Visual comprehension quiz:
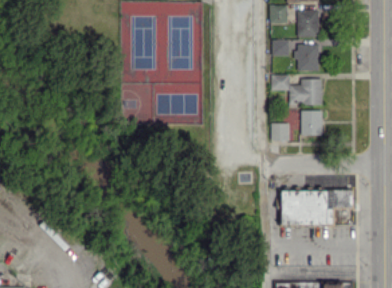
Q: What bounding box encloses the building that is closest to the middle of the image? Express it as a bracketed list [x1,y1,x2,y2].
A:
[272,122,290,142]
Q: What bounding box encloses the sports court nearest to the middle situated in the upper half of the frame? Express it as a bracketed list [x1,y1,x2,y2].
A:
[152,82,202,124]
